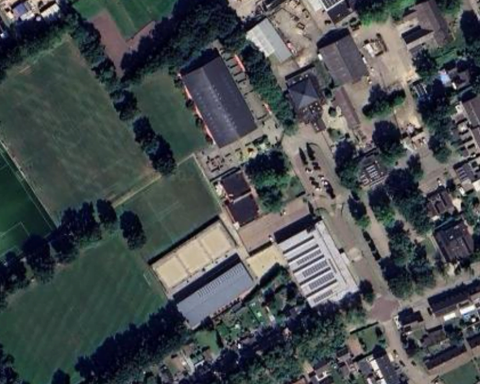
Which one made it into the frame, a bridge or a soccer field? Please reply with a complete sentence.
Visible in the photo is a soccer field.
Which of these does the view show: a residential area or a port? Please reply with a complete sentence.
What you see here is a residential area.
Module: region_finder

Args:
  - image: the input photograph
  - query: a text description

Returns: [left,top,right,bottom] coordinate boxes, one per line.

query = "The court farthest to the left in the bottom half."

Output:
[157,258,186,286]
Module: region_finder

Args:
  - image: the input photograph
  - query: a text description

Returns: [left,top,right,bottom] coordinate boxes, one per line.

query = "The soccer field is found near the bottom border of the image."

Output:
[0,235,173,384]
